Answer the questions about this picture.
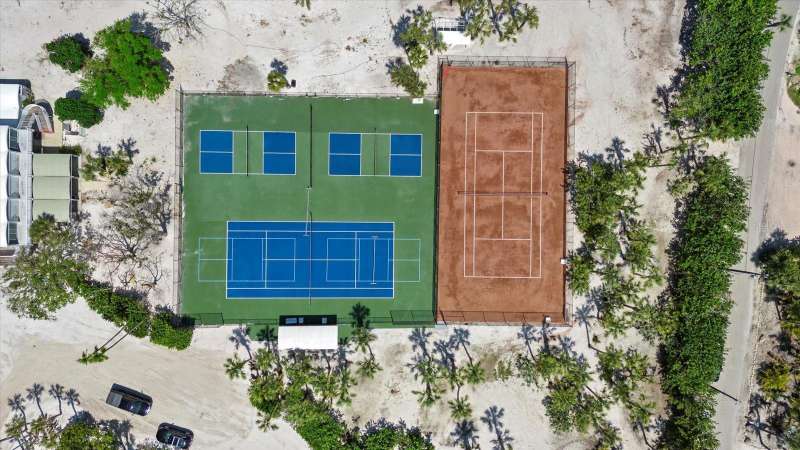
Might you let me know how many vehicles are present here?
2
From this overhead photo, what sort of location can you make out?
sports ground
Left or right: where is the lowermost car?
left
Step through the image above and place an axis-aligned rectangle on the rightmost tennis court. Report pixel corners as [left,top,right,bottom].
[439,66,567,323]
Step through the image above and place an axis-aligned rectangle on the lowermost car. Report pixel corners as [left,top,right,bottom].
[155,424,192,446]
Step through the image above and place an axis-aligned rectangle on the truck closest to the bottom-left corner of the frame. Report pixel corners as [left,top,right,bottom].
[102,388,148,414]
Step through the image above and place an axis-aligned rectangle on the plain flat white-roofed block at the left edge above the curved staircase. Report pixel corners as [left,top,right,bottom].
[0,84,43,122]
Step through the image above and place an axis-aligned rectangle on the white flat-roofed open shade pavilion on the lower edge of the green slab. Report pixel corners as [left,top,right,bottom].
[278,323,339,350]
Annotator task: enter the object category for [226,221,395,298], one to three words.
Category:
tennis court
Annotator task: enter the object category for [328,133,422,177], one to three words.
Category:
sports court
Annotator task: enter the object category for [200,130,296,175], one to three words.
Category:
sports court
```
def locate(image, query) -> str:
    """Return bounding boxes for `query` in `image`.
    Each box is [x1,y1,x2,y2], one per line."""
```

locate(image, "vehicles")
[155,424,192,446]
[102,388,148,414]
